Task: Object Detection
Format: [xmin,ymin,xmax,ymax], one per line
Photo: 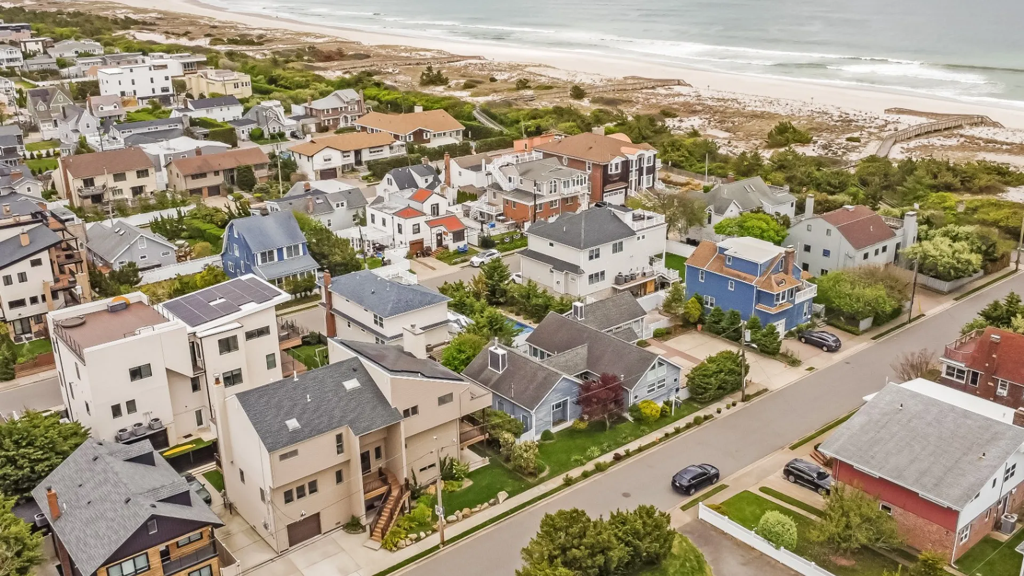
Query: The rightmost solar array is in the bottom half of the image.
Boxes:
[336,340,468,382]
